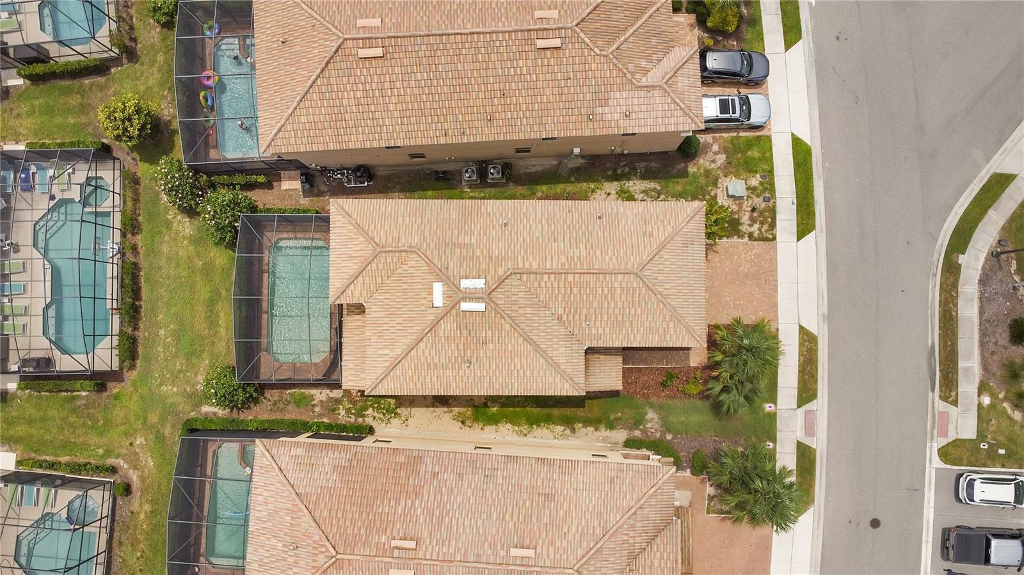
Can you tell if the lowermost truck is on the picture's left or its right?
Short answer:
right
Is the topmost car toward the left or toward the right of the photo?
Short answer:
right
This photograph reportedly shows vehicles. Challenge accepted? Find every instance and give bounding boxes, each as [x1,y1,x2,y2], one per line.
[700,45,768,86]
[954,467,1024,509]
[947,522,1024,565]
[705,90,770,131]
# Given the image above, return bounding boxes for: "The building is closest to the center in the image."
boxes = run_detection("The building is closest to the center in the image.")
[327,198,709,397]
